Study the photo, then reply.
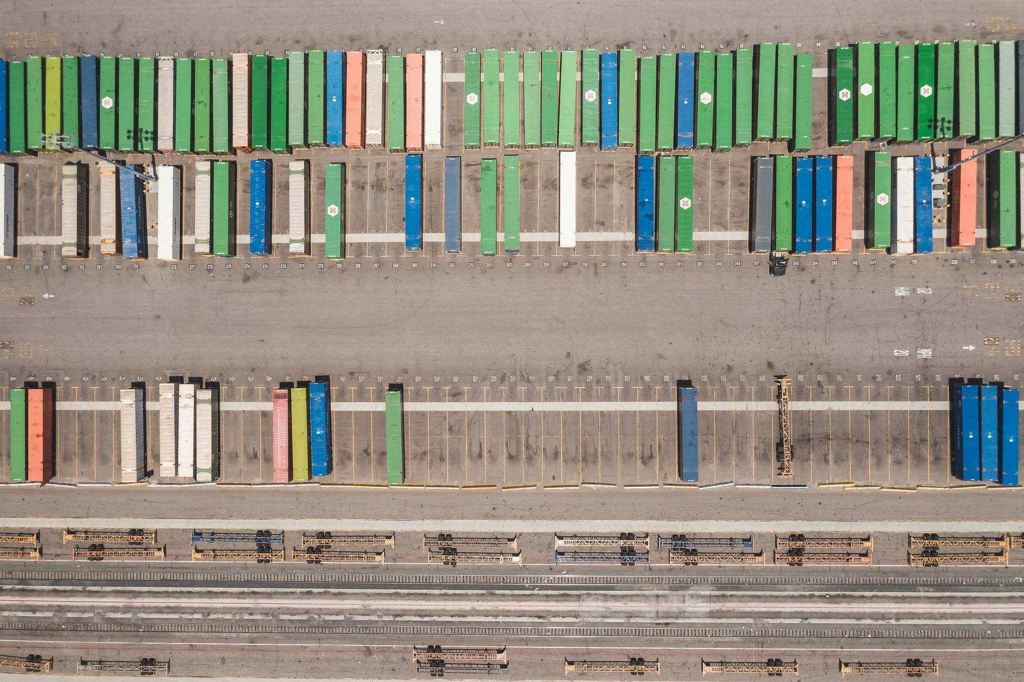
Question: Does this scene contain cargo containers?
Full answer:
Yes, a cargo container is visible in the scene.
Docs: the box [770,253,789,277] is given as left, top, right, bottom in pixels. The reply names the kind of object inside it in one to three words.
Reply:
vehicle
